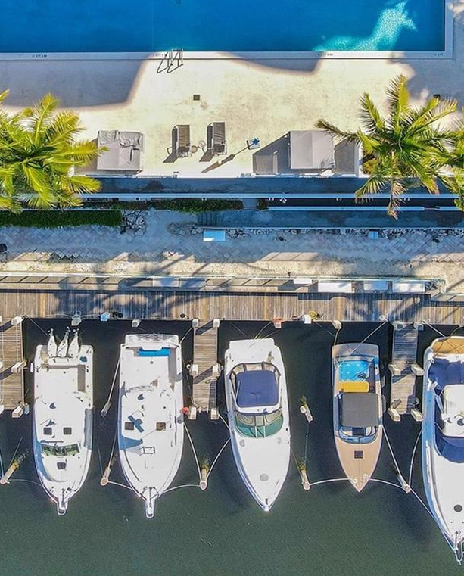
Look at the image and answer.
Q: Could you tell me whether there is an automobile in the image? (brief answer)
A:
No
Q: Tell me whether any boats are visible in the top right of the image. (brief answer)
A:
No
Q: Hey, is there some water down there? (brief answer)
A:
Yes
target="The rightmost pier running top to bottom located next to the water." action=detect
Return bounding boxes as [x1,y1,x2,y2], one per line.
[391,324,419,413]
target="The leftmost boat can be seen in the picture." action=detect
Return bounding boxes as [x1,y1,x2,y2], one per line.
[30,330,95,516]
